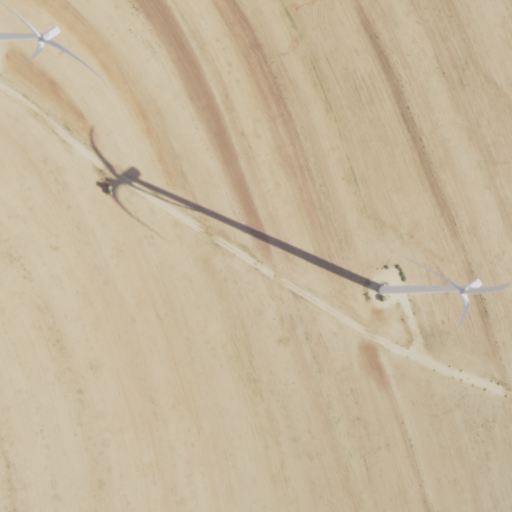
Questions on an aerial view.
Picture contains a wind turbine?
Yes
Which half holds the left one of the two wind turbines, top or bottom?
top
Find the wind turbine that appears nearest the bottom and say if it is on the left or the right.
right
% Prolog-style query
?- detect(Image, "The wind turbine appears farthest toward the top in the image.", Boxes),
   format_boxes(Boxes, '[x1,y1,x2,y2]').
[0,0,106,80]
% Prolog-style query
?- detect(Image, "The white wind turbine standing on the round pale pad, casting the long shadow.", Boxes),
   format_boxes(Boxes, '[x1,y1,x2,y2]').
[377,254,510,330]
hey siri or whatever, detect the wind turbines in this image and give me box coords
[0,0,106,80]
[377,254,510,330]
